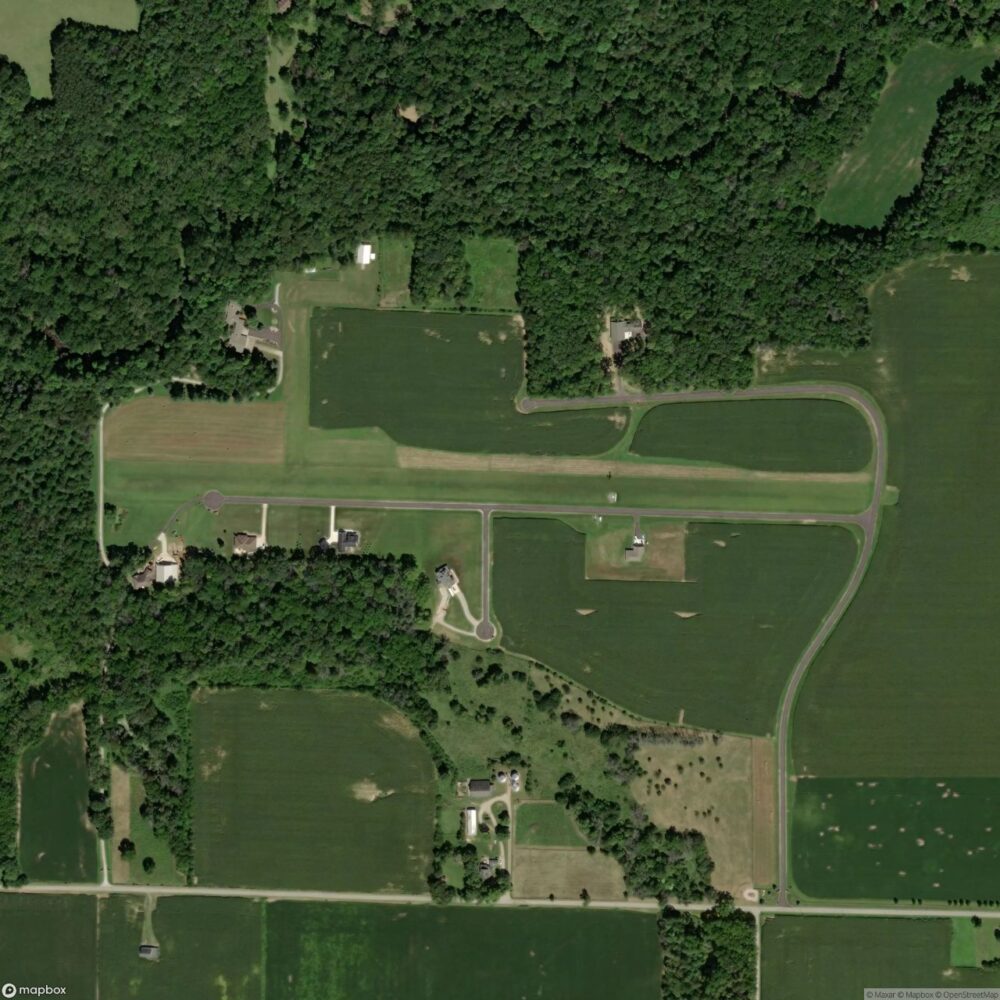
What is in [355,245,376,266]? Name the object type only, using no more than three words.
barn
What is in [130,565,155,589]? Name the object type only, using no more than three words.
house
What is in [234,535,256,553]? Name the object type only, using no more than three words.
house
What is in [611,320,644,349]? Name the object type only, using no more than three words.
hangar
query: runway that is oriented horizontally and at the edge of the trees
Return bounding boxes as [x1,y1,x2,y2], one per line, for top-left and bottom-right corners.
[104,302,866,512]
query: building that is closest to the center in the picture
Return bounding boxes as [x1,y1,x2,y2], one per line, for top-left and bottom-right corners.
[435,565,458,591]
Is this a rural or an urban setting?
rural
